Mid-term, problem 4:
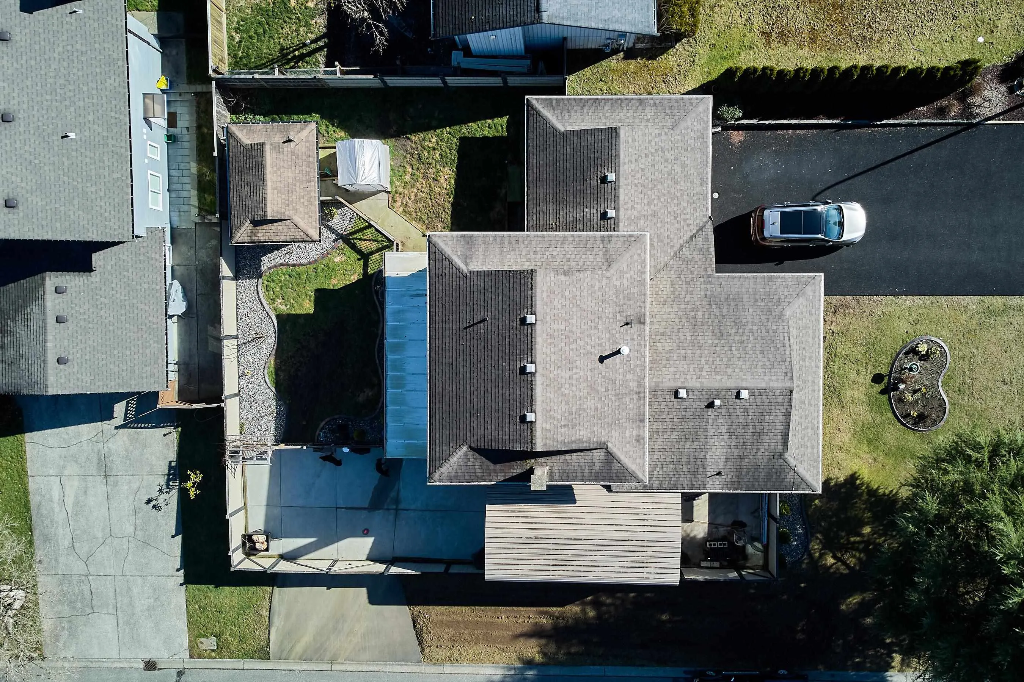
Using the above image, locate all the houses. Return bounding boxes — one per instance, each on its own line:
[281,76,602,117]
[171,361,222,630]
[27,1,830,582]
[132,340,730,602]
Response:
[428,0,659,58]
[426,92,827,497]
[0,0,180,396]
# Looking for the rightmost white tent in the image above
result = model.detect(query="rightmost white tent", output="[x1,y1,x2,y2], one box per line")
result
[337,138,391,192]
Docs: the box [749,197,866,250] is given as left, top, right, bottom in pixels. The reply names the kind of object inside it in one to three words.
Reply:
car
